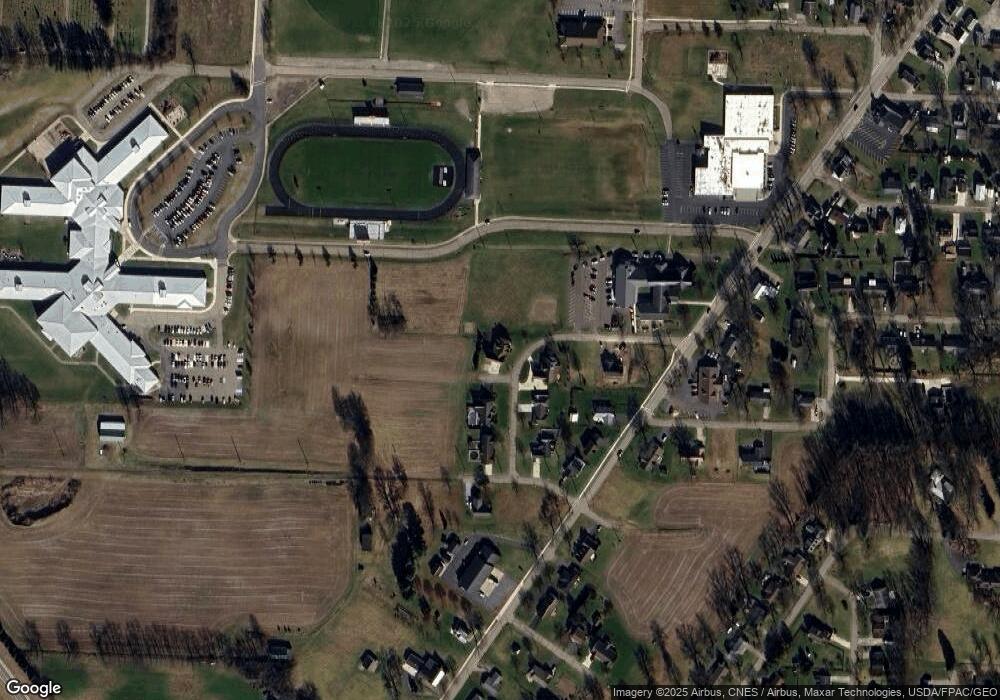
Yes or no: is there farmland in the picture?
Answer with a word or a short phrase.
Yes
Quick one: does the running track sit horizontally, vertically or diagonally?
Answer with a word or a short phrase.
horizontally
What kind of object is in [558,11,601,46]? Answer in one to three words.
building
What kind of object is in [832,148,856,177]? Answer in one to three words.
house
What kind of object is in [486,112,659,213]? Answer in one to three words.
sports field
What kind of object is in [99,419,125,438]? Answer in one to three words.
barn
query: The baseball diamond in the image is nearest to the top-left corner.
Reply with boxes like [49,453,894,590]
[308,0,379,41]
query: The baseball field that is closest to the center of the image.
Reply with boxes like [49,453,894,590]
[524,292,561,328]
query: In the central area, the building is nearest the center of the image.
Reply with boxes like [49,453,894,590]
[484,333,513,360]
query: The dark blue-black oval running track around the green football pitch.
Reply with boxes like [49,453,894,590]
[266,124,466,217]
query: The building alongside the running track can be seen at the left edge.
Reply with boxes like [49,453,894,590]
[0,111,207,394]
